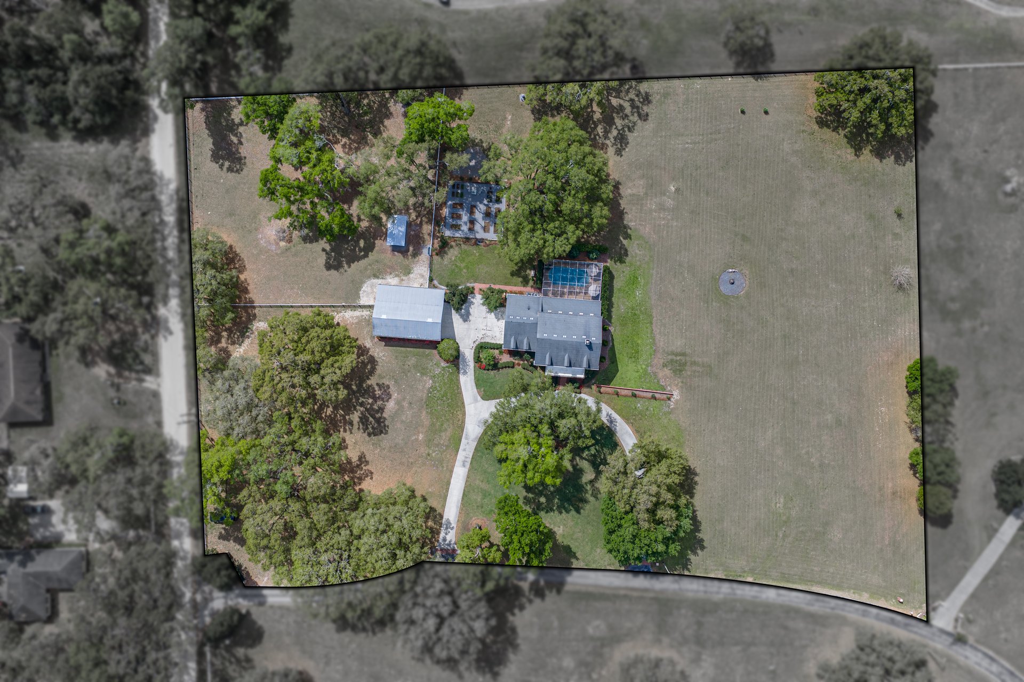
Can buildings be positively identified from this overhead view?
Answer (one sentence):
Yes, you can see a building in this photo.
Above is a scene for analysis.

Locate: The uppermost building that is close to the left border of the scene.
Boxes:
[0,323,46,423]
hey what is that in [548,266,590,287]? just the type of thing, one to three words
swimming pool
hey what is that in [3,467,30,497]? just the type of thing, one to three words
shed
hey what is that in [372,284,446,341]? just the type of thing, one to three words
barn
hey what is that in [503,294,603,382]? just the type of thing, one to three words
house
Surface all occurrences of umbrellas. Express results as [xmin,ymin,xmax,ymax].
[589,285,600,296]
[587,264,599,276]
